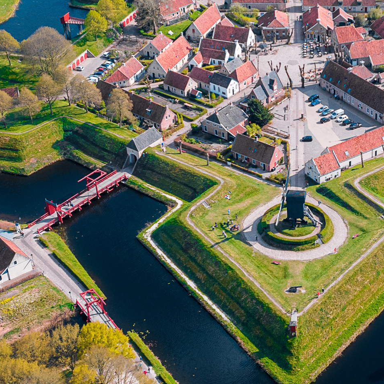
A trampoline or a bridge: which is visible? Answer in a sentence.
This aerial view contains a bridge.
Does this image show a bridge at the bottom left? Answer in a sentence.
Yes, looking at the bottom left, one can make out a bridge.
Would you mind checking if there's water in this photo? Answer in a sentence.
Yes, water shows up in the scene.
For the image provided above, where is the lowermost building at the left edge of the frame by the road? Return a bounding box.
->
[0,236,36,284]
